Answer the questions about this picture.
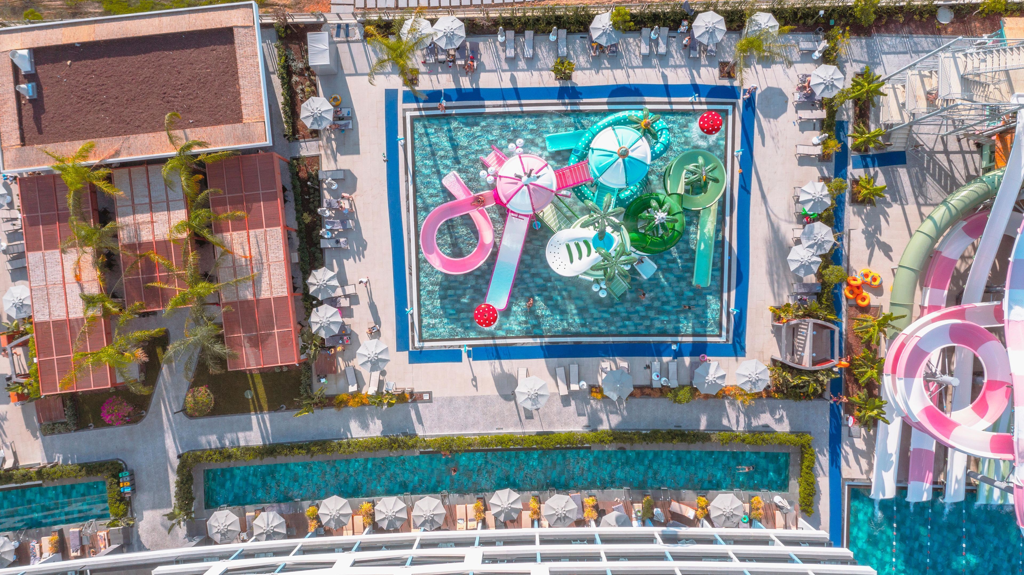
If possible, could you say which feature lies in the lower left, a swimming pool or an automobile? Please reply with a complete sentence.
You can see a swimming pool in the lower left.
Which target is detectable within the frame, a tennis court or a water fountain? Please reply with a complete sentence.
This aerial view contains a water fountain.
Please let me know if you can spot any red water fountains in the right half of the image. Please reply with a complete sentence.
Yes, the scene does show a red water fountain in the right half of the image.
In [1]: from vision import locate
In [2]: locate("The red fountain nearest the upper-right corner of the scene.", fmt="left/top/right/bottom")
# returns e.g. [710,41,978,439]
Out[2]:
[695,111,723,136]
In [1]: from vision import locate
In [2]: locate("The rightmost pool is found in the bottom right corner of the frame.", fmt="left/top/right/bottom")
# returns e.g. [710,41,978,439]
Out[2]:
[850,488,1024,575]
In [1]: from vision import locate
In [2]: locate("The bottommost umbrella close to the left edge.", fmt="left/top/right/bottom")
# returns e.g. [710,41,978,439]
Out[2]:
[0,531,31,565]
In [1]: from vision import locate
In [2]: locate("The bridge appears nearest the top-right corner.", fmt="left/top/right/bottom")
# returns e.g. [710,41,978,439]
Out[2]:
[554,161,593,190]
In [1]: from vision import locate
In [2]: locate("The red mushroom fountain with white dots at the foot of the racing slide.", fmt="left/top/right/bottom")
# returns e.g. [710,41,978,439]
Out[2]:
[474,303,498,327]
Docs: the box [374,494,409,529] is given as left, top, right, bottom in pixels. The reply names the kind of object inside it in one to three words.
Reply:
umbrella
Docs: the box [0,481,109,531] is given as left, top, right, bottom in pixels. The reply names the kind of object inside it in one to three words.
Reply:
swimming pool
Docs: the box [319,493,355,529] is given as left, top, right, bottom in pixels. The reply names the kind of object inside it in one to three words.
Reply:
umbrella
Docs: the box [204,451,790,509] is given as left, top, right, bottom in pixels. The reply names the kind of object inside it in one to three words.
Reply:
swimming pool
